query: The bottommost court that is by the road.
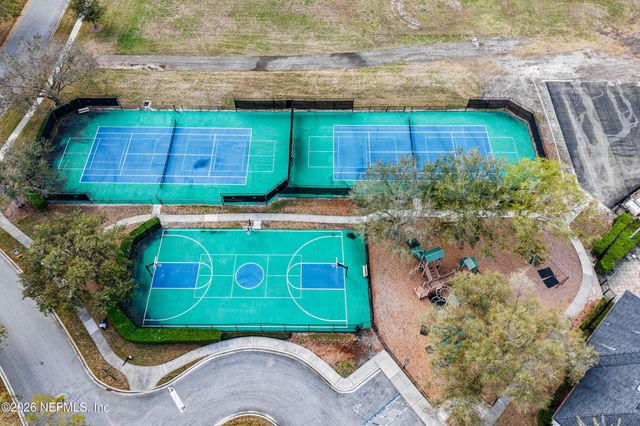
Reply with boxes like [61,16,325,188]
[122,228,371,332]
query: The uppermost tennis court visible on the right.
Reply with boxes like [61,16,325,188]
[281,112,541,199]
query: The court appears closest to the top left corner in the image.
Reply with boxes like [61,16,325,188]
[42,111,292,205]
